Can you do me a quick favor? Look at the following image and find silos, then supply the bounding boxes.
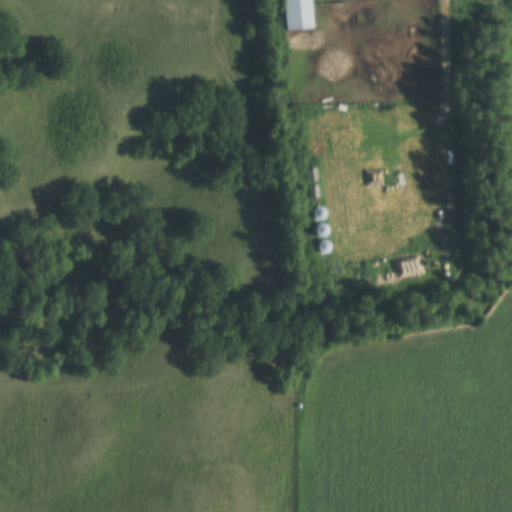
[318,240,333,255]
[316,222,330,238]
[312,206,328,221]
